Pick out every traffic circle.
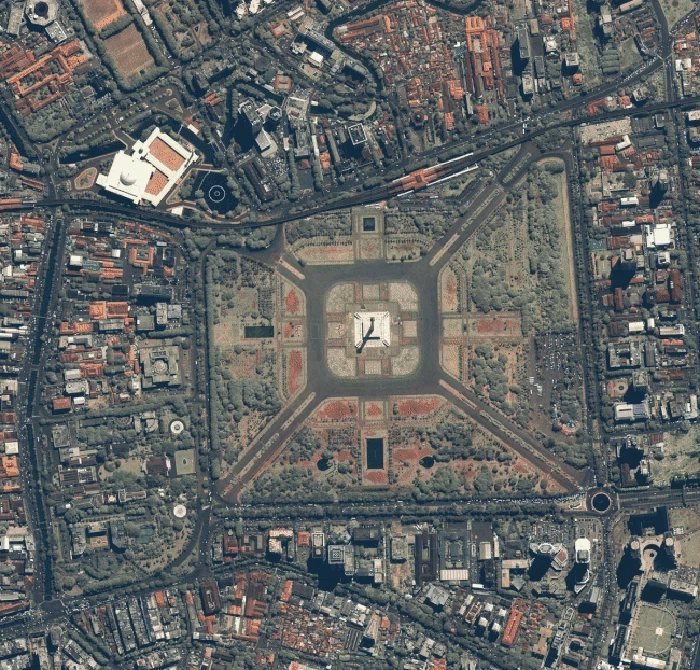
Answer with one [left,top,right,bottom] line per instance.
[582,483,619,520]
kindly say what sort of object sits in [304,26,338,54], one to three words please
building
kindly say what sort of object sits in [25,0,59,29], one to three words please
building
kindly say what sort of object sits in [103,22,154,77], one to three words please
sports field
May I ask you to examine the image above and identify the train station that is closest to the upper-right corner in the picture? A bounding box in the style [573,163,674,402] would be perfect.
[381,152,481,200]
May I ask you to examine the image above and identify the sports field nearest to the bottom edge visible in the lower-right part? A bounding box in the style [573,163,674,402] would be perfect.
[628,602,676,654]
